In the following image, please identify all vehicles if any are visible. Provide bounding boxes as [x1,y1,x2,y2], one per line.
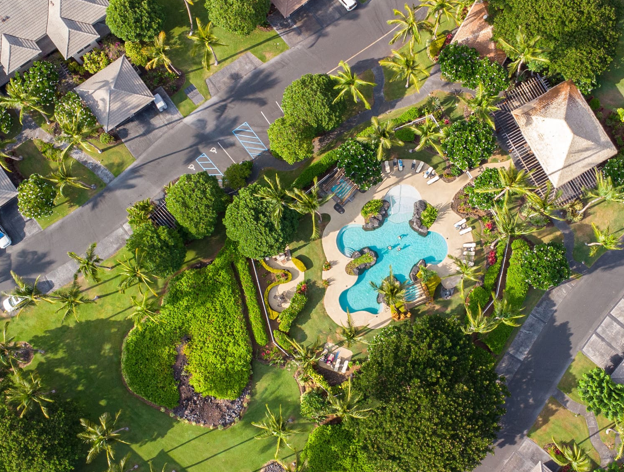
[0,226,10,250]
[154,95,168,113]
[340,0,358,13]
[0,288,32,313]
